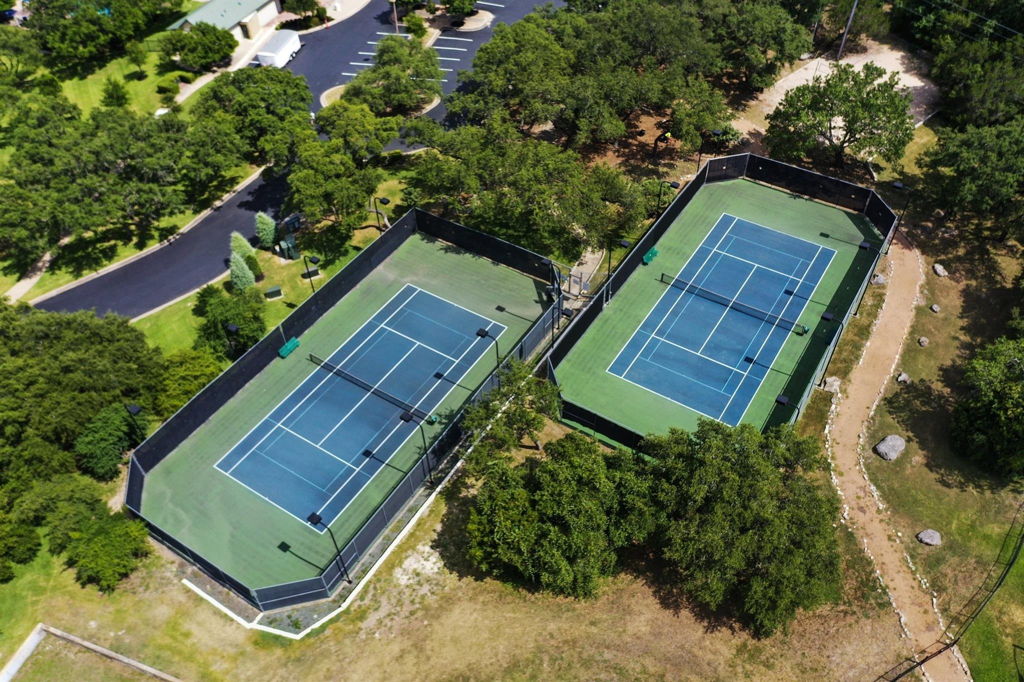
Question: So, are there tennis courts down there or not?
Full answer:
Yes, you can see a tennis court in this photo.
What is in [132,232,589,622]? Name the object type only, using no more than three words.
tennis court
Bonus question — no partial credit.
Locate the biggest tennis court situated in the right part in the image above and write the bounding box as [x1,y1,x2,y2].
[545,177,890,491]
